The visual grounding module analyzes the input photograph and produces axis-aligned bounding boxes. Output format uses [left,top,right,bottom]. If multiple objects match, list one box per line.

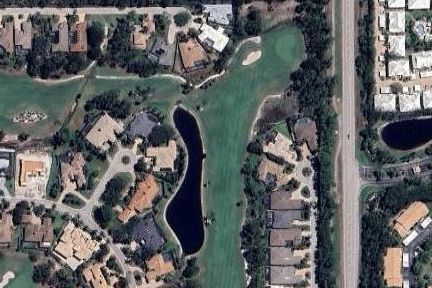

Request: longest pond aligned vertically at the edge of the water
[166,104,202,255]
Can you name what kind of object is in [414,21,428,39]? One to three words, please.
swimming pool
